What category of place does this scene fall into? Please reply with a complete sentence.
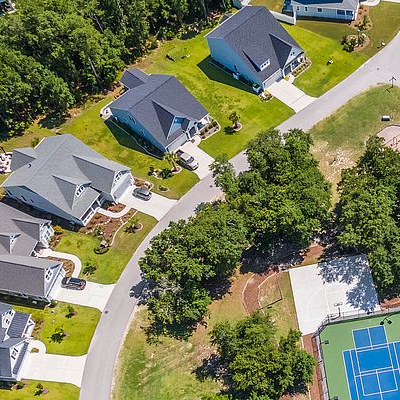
This looks like a residential area.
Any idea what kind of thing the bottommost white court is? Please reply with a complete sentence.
In the photo, the bottommost white court shows up as a basketball court.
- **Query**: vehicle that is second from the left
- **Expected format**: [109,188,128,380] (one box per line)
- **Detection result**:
[130,185,153,200]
